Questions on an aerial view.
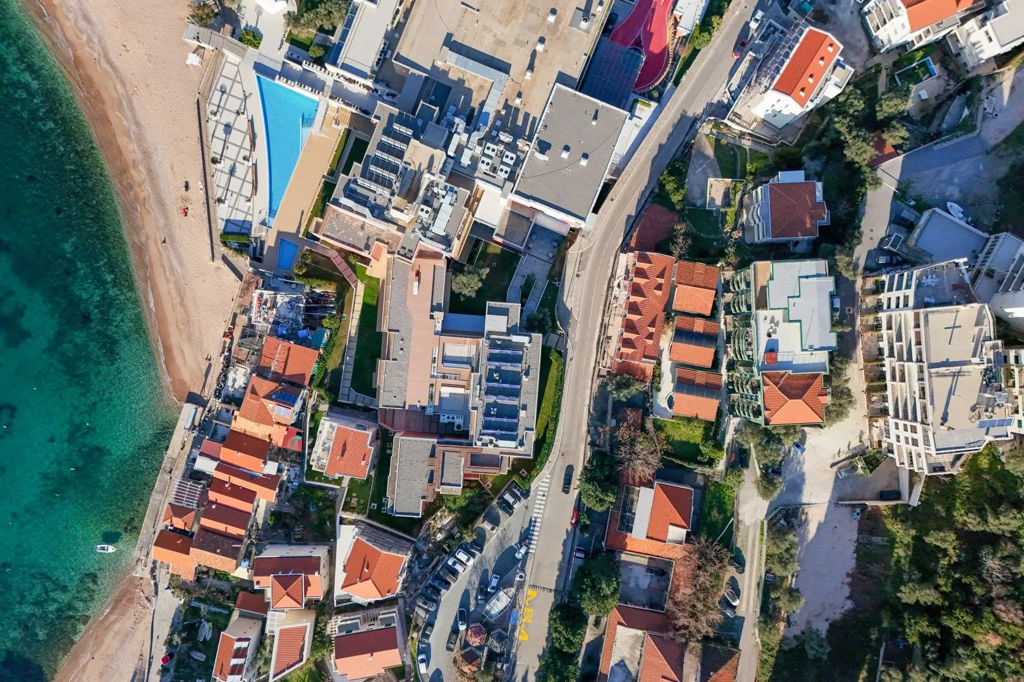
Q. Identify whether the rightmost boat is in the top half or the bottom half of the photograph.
top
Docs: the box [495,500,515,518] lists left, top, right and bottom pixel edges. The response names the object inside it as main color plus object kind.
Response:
black car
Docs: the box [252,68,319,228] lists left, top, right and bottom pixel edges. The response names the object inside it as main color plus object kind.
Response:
blue swimming pool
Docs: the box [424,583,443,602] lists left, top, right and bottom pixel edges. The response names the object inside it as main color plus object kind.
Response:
black car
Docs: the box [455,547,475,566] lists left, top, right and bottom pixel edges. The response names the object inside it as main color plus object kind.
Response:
white car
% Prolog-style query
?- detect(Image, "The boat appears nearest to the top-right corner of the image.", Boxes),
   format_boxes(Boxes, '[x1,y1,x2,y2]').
[947,202,971,222]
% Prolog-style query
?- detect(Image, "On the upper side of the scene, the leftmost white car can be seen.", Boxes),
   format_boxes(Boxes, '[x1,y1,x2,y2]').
[746,9,764,30]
